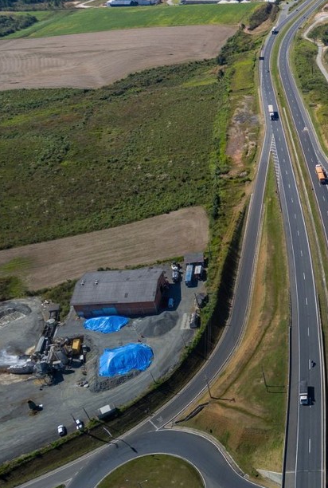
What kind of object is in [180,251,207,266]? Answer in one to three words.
shed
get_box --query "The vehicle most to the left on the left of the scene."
[23,398,42,411]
